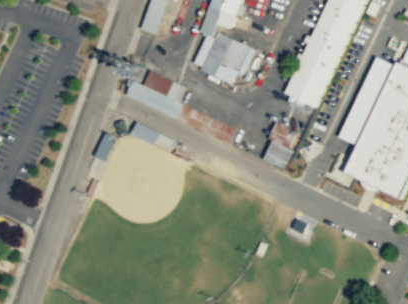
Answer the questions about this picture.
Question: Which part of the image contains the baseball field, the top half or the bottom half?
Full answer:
The baseball field sits in the bottom half of the picture.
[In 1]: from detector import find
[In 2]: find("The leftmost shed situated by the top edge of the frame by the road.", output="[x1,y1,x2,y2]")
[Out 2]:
[140,0,169,35]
